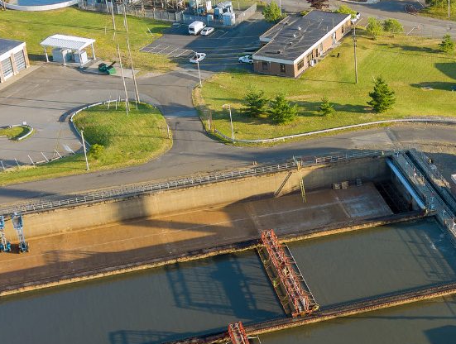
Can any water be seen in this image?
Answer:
Yes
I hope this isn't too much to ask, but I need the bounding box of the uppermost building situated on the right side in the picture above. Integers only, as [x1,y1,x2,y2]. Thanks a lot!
[238,10,360,79]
